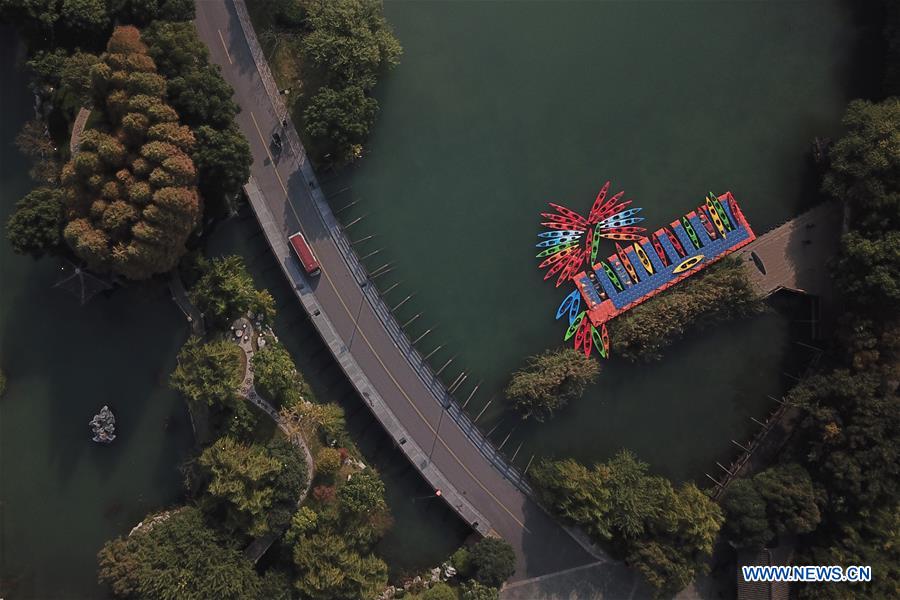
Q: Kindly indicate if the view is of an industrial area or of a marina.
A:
marina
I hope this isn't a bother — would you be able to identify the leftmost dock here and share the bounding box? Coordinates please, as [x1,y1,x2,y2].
[571,192,756,325]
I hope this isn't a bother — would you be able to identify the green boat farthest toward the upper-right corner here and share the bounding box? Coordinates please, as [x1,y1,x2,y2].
[711,192,730,232]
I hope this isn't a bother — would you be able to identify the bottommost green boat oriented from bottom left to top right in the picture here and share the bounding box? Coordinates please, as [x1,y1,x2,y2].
[564,312,585,340]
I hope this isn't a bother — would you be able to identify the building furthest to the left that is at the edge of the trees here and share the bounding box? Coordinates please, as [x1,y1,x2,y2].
[54,248,113,303]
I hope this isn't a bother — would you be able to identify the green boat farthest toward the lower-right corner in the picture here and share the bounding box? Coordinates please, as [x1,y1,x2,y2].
[591,325,606,358]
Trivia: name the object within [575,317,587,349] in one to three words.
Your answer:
boat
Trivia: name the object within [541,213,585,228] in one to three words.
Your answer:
boat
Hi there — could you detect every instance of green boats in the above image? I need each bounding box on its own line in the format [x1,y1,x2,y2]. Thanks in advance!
[592,223,600,265]
[711,192,730,232]
[564,312,585,340]
[537,242,578,257]
[591,325,606,358]
[605,260,622,291]
[681,218,699,249]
